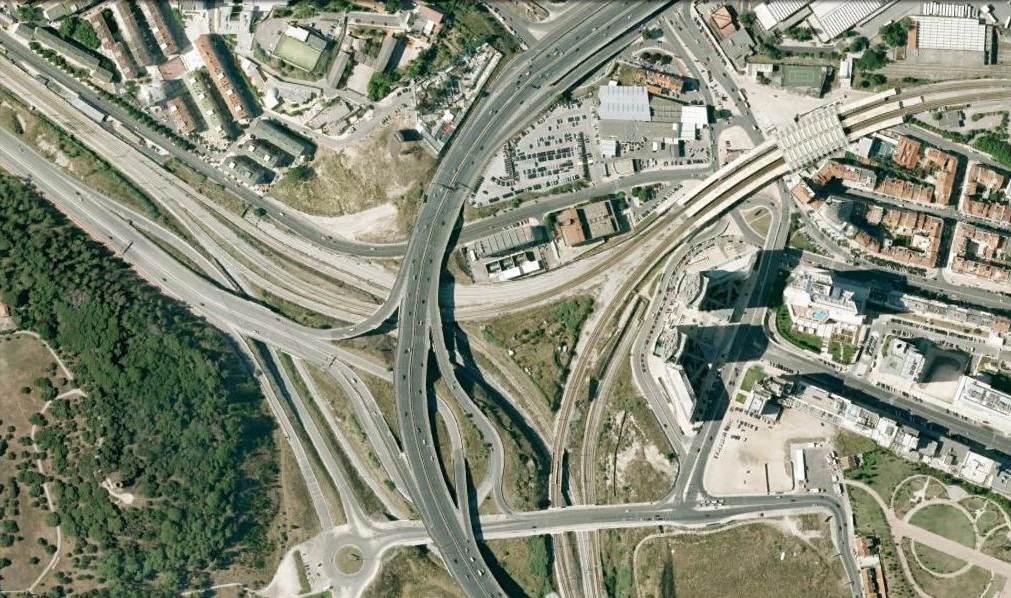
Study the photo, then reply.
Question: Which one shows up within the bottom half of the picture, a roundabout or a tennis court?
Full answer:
The feature located within the bottom half of the picture is a roundabout.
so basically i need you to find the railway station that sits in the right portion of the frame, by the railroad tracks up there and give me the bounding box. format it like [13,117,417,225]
[633,75,1011,266]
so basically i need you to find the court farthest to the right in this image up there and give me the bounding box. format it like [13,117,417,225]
[781,65,826,92]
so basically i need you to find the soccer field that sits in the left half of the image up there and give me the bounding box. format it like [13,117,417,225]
[272,35,323,75]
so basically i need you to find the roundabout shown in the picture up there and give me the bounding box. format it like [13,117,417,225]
[320,532,376,587]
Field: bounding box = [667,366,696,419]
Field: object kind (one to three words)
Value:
building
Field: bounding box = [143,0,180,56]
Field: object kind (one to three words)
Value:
building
